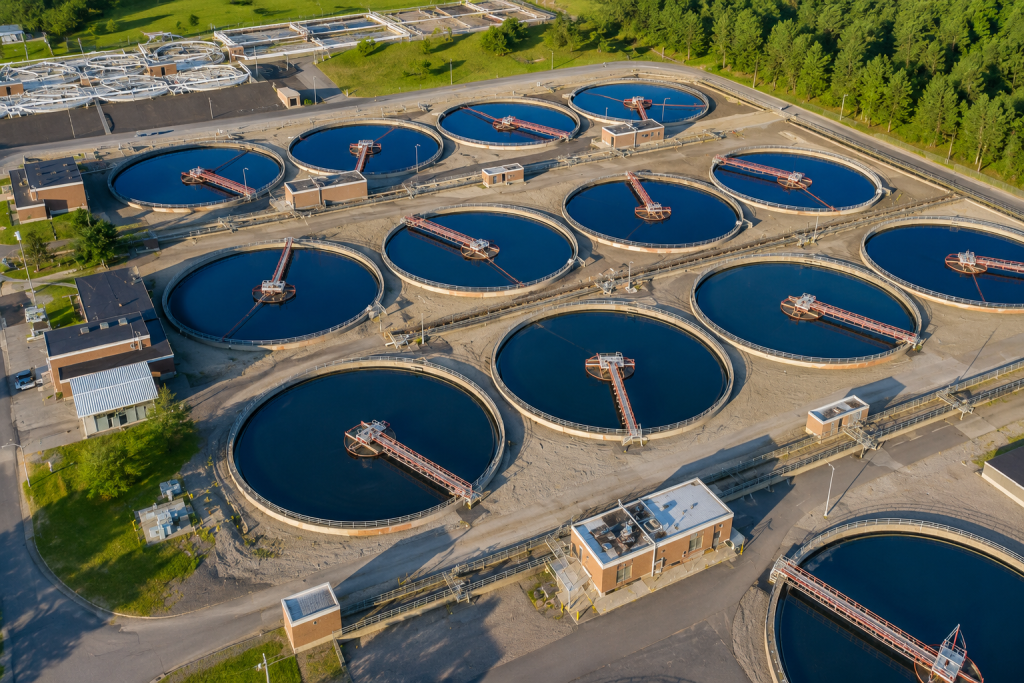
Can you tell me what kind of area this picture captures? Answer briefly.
industrial area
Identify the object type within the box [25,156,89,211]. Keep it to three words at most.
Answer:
building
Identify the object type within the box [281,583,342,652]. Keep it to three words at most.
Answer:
shed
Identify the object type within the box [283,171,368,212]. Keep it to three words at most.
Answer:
house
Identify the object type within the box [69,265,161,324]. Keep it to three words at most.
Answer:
building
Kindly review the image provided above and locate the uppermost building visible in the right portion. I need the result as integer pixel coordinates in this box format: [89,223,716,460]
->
[600,119,664,150]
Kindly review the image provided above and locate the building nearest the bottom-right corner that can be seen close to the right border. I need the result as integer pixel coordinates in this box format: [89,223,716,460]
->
[977,445,1024,513]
